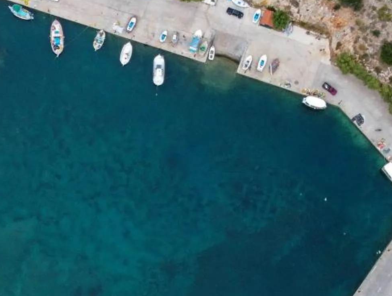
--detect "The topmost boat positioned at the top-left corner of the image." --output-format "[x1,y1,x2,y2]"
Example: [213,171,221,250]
[7,5,35,20]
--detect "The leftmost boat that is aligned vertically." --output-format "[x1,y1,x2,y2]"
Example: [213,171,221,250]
[50,19,64,58]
